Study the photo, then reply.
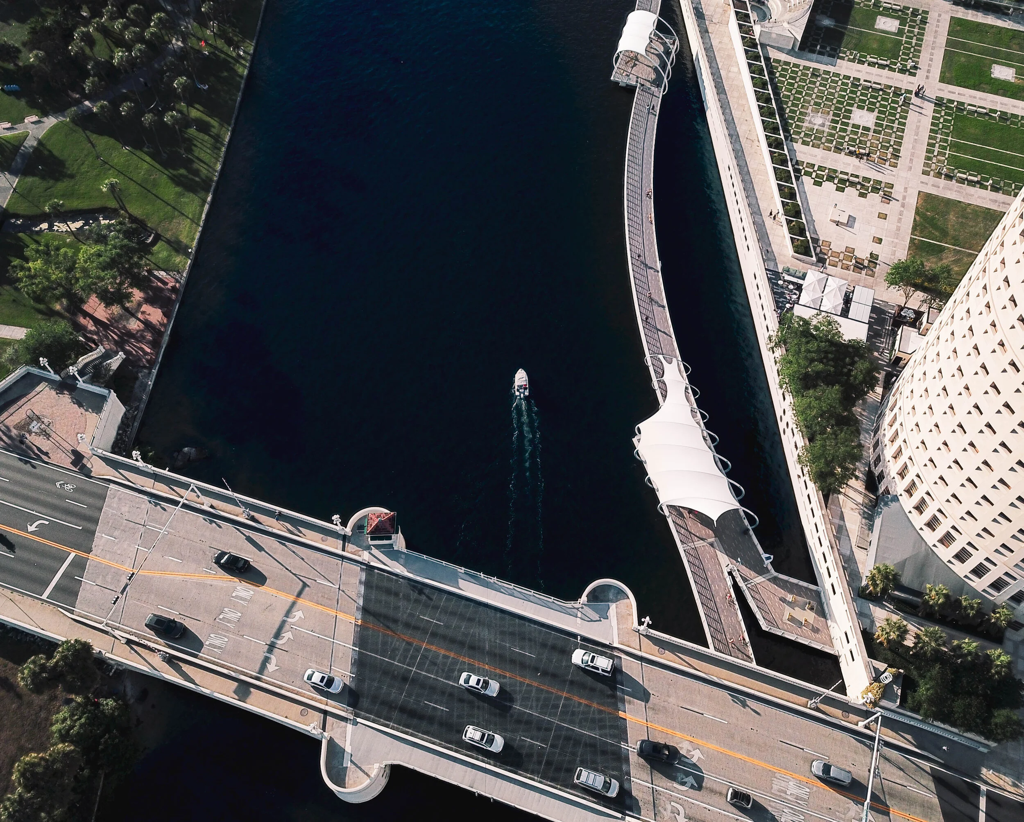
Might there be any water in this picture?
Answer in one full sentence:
Yes, water can be seen from above here.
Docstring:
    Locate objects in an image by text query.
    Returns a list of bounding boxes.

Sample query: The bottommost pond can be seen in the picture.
[1,212,121,233]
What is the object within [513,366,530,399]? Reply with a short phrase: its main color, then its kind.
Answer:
white boat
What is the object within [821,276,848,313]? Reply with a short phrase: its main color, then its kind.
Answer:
white tent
